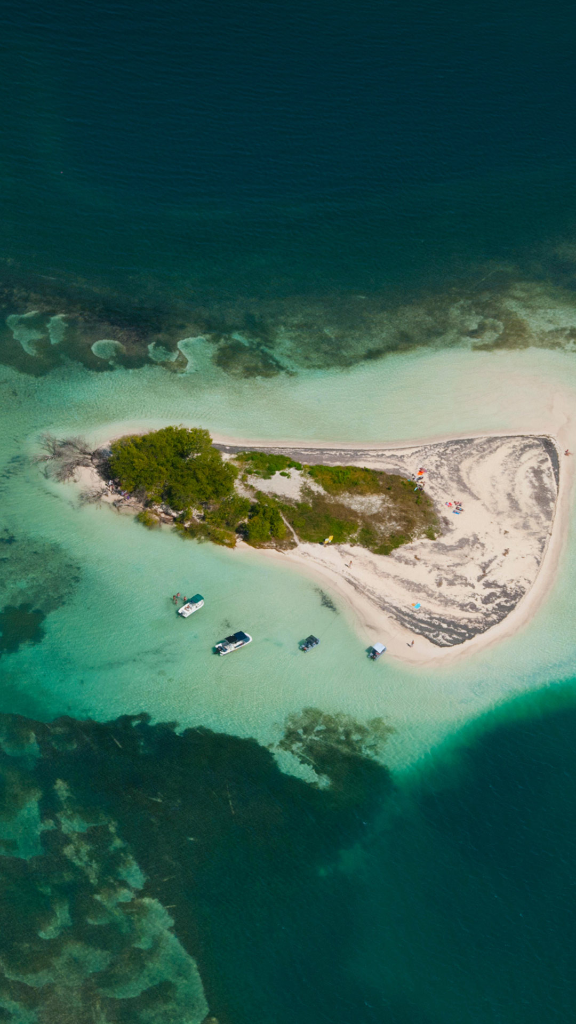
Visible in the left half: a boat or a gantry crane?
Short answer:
boat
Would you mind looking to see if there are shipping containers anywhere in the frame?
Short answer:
No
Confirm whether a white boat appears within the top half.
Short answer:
No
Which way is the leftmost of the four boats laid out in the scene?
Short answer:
at an angle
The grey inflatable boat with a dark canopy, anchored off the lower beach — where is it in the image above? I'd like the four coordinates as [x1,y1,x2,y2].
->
[300,635,320,653]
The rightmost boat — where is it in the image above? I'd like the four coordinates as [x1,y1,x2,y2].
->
[367,641,387,661]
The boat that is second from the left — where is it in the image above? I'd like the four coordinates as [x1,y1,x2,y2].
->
[215,632,252,656]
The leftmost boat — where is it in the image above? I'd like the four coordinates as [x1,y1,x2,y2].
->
[175,594,206,621]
